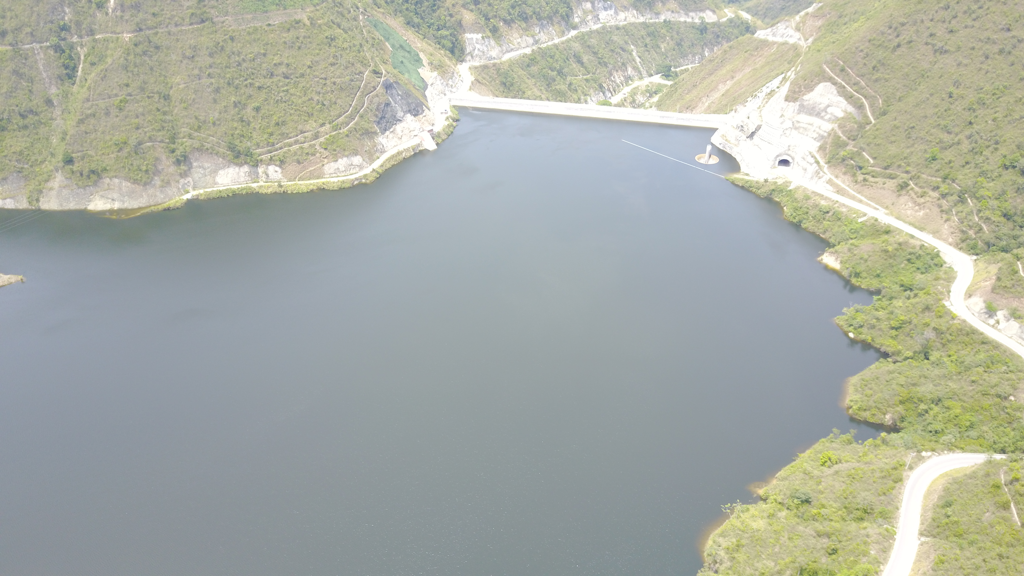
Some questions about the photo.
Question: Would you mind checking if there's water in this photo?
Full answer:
Yes, water shows up in the scene.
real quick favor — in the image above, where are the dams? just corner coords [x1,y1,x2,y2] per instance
[461,97,730,129]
